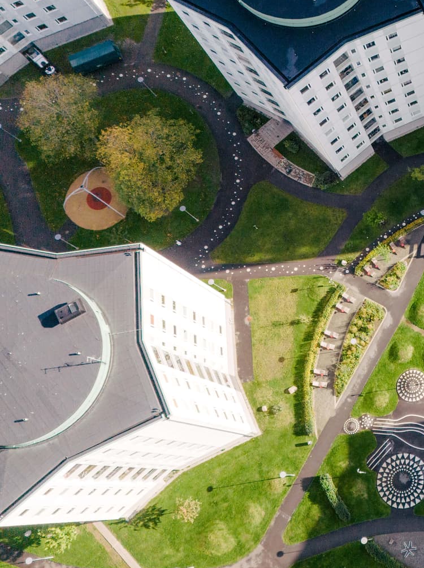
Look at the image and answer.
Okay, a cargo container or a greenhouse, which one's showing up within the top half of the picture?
cargo container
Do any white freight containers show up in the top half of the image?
No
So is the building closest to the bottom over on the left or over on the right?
left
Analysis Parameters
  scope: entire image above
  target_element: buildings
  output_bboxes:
[173,0,424,176]
[0,247,253,517]
[0,0,112,79]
